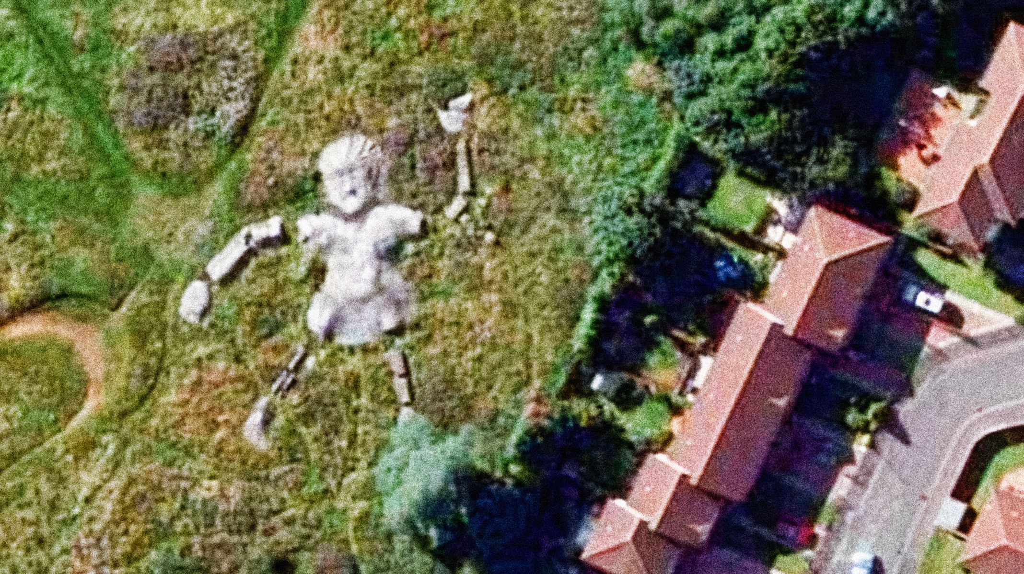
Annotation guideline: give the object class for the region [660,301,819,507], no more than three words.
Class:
house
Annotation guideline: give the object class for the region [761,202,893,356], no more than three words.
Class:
house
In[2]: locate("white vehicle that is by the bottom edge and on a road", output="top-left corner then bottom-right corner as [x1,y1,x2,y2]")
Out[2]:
[850,549,876,574]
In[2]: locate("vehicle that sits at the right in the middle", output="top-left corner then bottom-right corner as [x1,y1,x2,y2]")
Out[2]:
[900,282,948,318]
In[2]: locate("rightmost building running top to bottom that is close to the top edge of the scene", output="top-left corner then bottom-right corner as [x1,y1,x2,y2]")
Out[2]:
[952,21,1024,181]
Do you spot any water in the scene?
No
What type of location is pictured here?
residential area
